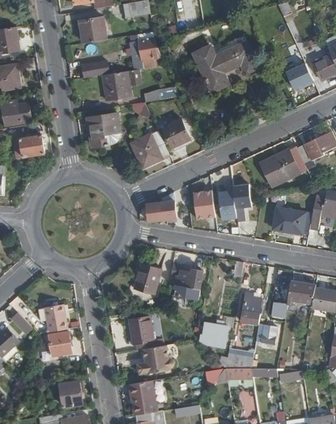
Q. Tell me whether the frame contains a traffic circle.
Yes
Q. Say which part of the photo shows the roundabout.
left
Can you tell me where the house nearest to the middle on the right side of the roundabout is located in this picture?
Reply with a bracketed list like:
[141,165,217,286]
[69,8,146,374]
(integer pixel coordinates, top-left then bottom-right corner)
[144,200,178,224]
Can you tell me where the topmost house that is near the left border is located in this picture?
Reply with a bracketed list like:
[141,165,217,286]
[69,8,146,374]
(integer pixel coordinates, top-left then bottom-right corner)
[0,26,25,60]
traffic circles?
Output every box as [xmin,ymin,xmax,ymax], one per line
[19,161,139,281]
